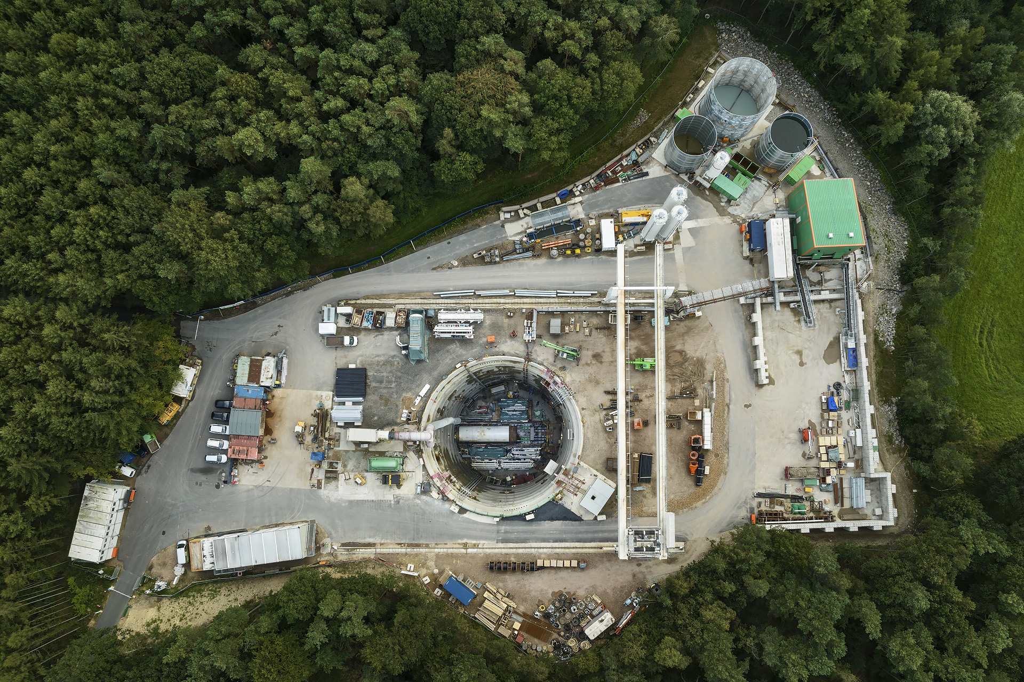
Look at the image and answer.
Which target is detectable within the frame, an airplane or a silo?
silo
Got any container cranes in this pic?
Yes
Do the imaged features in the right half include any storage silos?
Yes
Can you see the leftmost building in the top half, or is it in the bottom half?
bottom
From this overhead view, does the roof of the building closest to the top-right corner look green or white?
green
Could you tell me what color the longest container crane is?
white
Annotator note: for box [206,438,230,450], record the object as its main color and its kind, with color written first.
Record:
white vehicle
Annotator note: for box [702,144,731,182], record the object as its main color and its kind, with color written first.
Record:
white silo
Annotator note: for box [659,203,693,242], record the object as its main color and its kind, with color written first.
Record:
white silo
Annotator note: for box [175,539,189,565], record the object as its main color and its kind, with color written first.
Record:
white vehicle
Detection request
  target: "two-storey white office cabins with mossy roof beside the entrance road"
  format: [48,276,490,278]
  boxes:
[69,481,131,562]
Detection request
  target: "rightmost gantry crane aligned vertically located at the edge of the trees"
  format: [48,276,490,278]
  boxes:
[592,244,671,567]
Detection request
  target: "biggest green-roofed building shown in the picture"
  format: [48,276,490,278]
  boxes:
[789,176,866,257]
